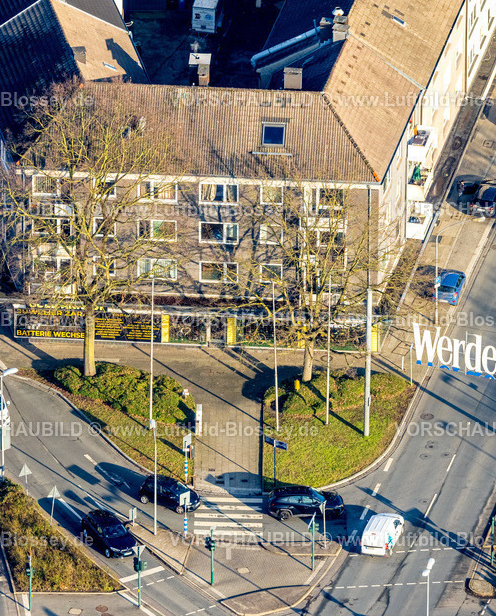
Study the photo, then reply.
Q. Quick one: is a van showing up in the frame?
Yes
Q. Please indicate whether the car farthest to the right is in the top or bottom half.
top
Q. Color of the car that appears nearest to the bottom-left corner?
black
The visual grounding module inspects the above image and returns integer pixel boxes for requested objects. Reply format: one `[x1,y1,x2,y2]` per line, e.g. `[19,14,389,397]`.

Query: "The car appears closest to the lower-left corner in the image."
[76,499,139,556]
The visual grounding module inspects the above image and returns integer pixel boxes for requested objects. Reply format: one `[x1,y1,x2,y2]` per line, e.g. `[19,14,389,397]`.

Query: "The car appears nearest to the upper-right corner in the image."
[468,172,496,214]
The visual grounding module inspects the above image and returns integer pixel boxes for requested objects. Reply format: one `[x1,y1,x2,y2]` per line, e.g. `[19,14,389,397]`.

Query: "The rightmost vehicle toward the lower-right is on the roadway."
[357,507,406,558]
